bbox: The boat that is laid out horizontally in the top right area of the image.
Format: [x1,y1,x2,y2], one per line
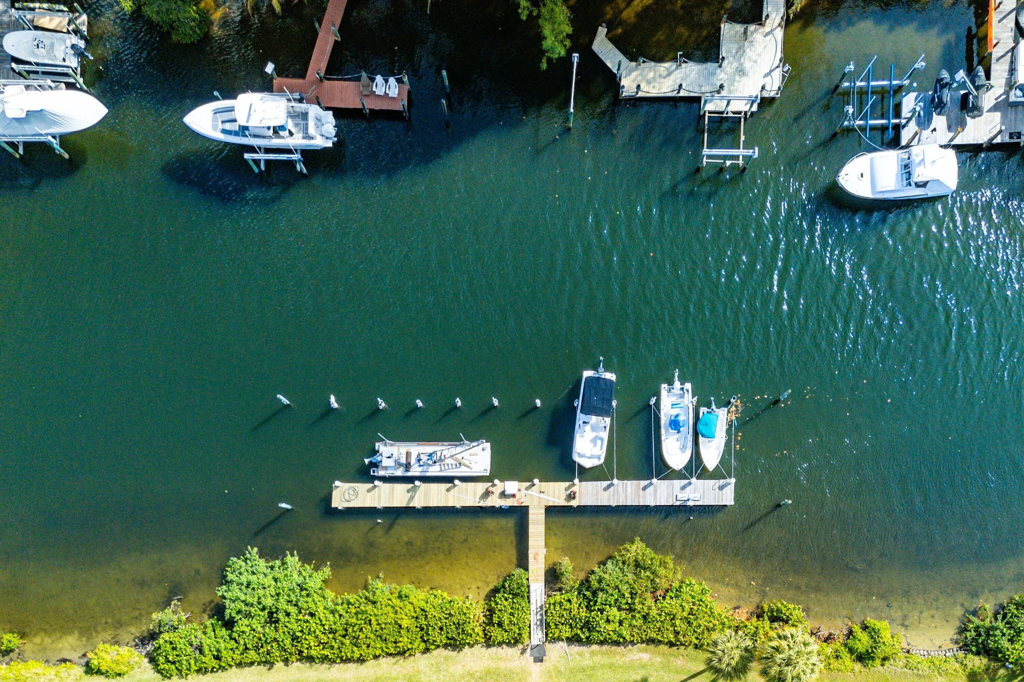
[832,143,963,200]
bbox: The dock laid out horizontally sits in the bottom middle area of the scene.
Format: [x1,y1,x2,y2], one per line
[332,477,737,646]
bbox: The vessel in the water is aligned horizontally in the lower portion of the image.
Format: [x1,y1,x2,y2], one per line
[363,432,491,477]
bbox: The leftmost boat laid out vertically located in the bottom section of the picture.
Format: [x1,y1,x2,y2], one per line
[574,356,617,468]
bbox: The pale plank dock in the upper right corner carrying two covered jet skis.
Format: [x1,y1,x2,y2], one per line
[895,0,1024,153]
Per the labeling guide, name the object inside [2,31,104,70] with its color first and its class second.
white boat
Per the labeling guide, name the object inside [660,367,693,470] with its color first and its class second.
white boat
